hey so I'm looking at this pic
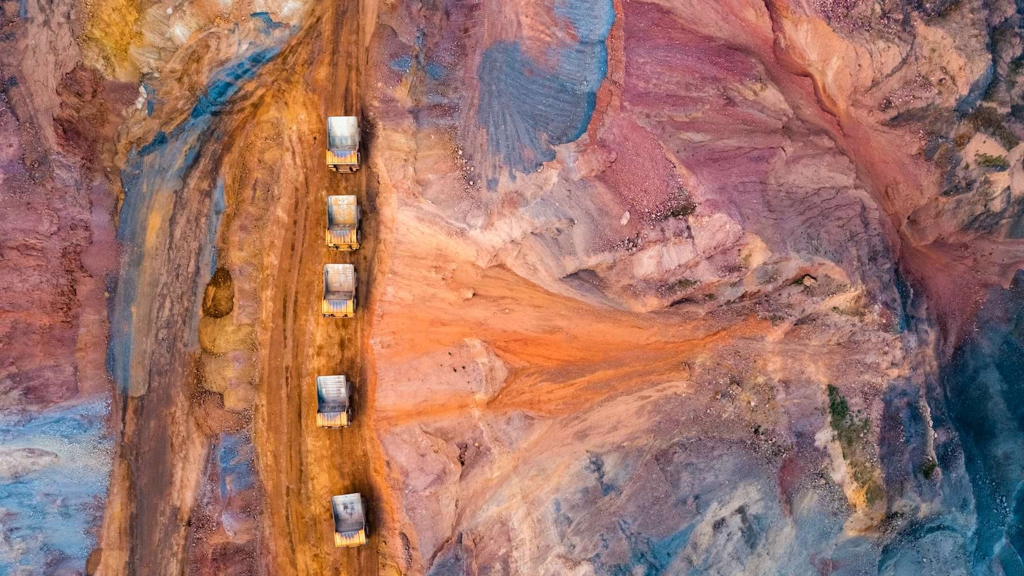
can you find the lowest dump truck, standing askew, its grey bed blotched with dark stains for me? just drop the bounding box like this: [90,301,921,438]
[332,491,373,549]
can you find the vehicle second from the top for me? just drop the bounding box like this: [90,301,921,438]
[324,195,363,252]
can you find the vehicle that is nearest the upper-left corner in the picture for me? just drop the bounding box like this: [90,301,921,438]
[324,116,364,175]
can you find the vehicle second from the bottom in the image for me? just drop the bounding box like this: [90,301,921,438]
[316,375,355,431]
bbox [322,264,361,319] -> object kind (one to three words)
truck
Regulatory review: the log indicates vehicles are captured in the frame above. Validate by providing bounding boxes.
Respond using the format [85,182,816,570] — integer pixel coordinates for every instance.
[316,375,355,431]
[322,264,361,319]
[332,491,373,549]
[324,195,363,252]
[324,116,364,175]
